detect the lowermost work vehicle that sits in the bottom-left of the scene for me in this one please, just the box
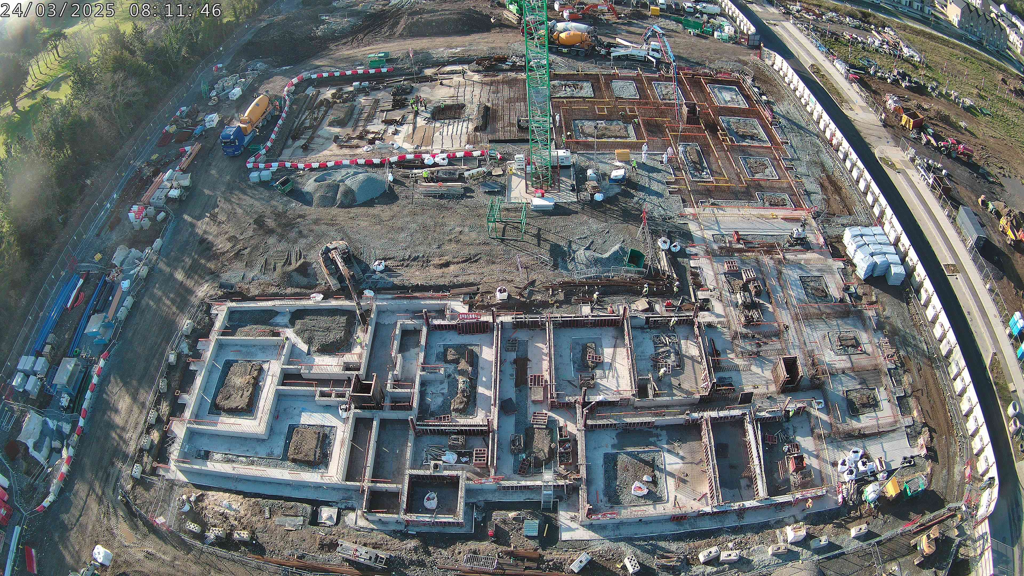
[66,542,127,576]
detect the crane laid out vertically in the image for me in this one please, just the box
[525,0,554,188]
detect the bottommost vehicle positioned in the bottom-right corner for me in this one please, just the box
[907,513,967,569]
